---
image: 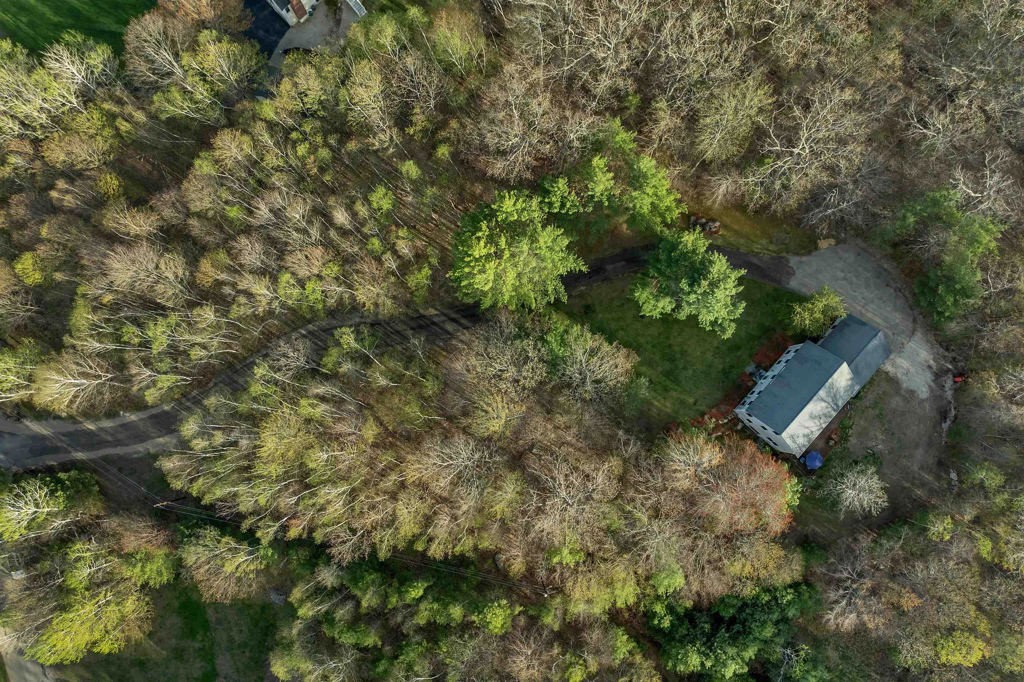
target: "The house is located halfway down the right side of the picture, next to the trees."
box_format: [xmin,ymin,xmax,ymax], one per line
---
[734,311,898,461]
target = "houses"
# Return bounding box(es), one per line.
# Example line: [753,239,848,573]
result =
[268,0,320,27]
[734,311,898,461]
